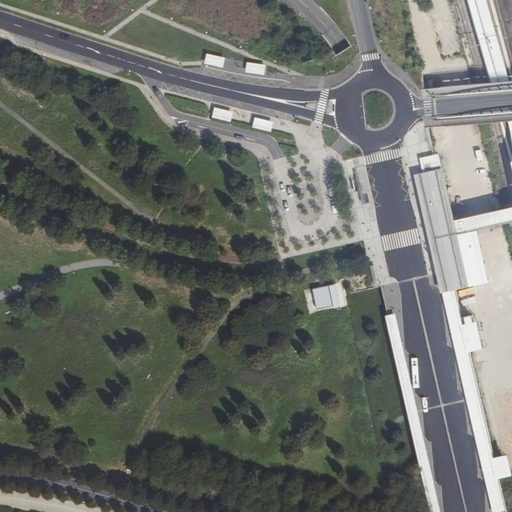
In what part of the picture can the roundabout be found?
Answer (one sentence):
You can find the roundabout in the top right area of the picture.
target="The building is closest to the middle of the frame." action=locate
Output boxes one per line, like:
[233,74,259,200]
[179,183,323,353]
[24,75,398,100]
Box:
[304,280,348,314]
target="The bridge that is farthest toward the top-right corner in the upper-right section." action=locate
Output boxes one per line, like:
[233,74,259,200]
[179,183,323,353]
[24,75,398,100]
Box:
[424,81,512,128]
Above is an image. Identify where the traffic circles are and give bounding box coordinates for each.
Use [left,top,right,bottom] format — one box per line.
[324,62,424,165]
